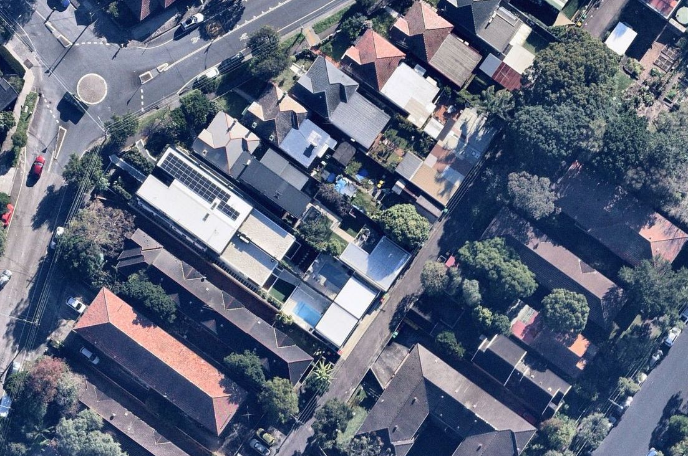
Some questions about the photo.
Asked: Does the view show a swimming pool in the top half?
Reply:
No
